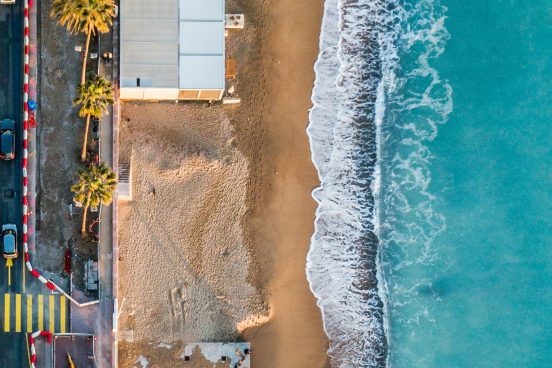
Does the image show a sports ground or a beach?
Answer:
beach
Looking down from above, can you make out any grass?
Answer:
No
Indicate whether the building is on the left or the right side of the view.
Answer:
left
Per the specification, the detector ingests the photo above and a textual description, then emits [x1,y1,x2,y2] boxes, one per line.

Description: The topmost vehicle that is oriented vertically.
[0,123,17,160]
